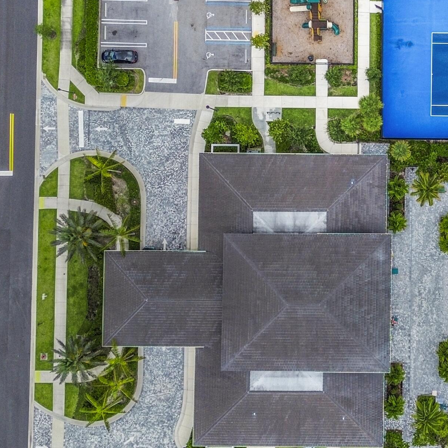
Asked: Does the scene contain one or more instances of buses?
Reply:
No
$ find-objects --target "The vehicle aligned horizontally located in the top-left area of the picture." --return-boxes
[100,47,137,64]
